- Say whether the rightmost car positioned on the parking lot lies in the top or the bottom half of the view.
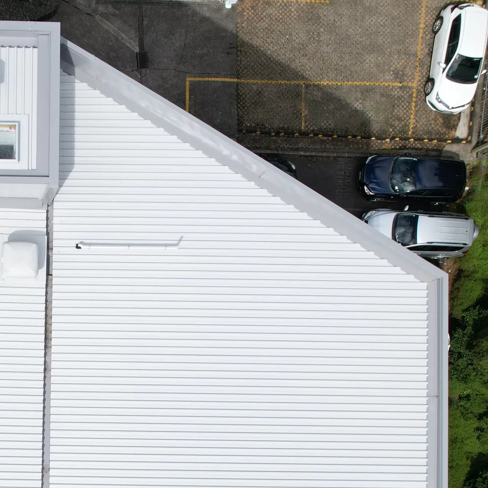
top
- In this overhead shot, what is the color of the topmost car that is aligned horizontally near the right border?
black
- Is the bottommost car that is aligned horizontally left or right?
right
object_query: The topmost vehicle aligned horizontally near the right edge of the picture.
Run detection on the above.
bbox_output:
[355,147,479,206]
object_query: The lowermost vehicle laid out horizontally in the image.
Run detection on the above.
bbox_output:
[360,200,487,259]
